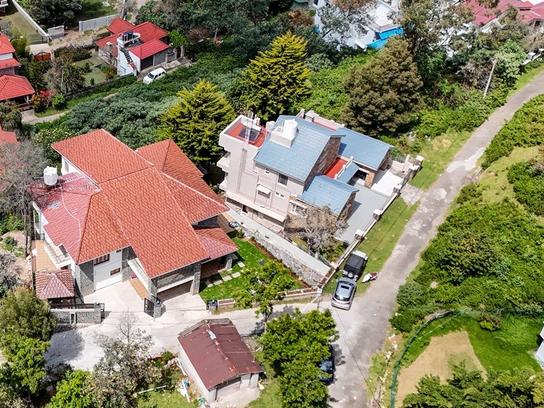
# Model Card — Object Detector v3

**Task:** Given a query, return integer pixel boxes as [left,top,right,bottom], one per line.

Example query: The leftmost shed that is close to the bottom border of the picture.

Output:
[176,320,266,408]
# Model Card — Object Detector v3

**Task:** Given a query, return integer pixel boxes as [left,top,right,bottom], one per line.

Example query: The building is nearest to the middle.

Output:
[214,113,416,268]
